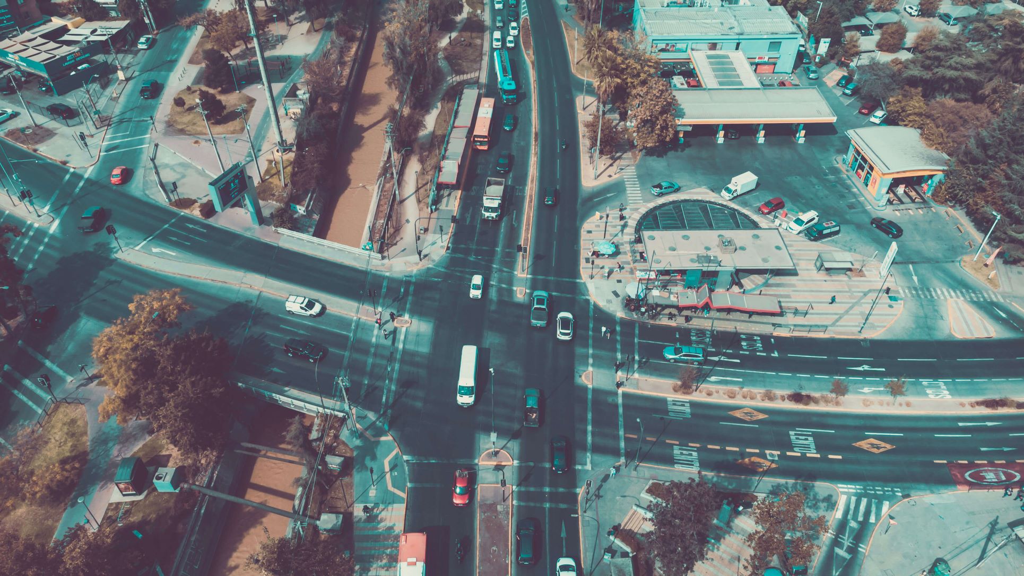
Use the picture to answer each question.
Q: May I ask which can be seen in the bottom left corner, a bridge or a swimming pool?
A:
bridge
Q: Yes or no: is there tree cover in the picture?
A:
Yes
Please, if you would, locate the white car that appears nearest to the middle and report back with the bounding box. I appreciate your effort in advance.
[468,275,484,300]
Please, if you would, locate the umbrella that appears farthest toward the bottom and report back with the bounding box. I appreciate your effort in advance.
[621,283,644,299]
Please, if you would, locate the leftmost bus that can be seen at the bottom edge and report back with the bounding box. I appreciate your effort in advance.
[398,530,429,576]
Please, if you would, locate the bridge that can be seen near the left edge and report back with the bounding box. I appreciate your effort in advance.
[0,362,408,576]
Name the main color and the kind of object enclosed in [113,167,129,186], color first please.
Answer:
red car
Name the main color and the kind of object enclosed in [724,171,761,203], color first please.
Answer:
white truck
